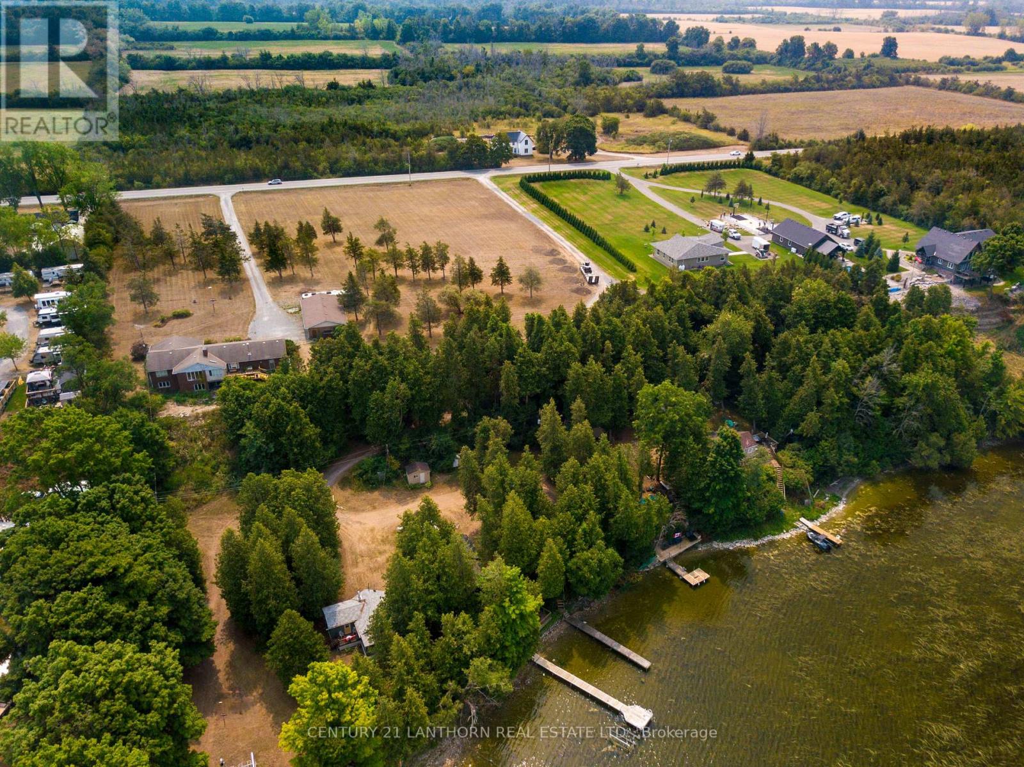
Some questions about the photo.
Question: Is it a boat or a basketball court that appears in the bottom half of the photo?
boat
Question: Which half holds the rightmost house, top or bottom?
top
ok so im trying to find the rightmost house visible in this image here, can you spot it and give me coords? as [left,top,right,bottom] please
[917,230,1001,282]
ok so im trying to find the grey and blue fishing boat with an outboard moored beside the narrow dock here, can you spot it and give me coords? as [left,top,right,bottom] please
[808,531,839,558]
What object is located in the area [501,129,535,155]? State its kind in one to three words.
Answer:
house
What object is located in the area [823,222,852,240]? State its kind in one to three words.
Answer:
vehicle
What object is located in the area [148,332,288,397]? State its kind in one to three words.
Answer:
house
